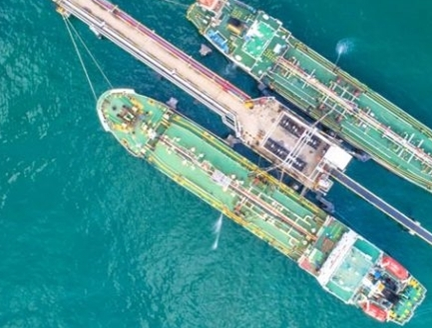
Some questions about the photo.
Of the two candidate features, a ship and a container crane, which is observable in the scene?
ship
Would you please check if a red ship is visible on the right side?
No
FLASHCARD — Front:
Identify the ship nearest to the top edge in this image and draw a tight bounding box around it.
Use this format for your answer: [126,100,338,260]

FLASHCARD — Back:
[186,0,432,194]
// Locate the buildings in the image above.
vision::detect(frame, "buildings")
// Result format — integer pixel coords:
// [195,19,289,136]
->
[318,175,334,192]
[327,145,358,172]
